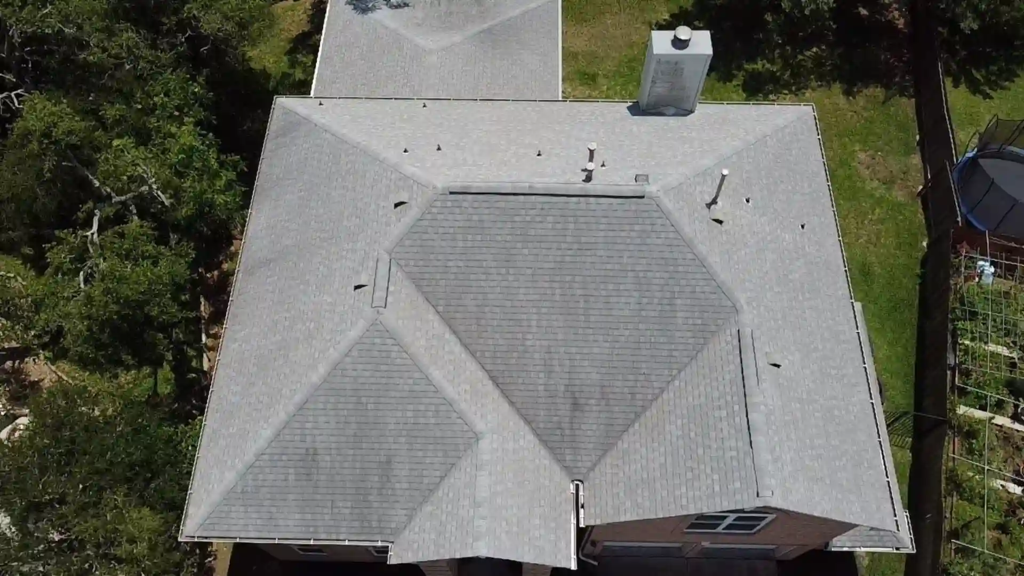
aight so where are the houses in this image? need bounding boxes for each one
[178,0,920,576]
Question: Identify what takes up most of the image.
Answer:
buildings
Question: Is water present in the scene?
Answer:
No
